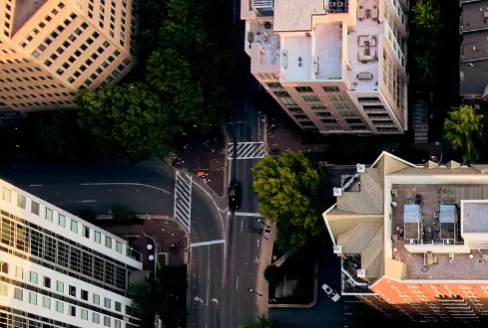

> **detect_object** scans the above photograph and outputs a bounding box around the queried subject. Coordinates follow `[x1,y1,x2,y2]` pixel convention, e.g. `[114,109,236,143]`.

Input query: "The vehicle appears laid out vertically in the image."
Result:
[228,182,240,208]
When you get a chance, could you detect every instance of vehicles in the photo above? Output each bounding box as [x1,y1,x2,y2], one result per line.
[321,284,342,303]
[228,182,240,208]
